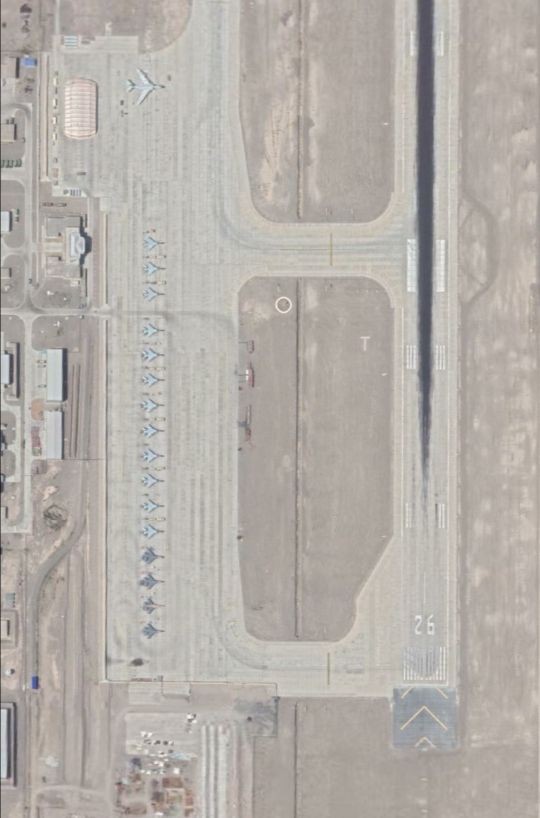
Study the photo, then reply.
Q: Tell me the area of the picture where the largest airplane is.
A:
top left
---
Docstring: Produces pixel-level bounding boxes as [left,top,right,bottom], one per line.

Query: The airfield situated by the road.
[52,0,457,748]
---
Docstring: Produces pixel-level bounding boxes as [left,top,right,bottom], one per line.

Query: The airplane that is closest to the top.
[127,68,165,104]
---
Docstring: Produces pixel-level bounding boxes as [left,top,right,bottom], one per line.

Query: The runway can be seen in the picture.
[394,0,457,686]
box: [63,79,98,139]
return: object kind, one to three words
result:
hangar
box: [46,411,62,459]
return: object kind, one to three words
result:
building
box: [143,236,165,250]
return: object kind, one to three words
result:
airplane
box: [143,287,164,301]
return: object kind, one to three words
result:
airplane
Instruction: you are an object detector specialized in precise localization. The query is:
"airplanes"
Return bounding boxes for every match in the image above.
[143,574,166,589]
[143,324,166,338]
[143,524,165,538]
[144,474,164,488]
[143,261,164,276]
[143,287,164,301]
[127,68,165,104]
[143,424,166,439]
[143,550,164,564]
[143,598,165,613]
[143,499,165,513]
[143,398,165,412]
[143,449,165,463]
[143,347,165,362]
[144,373,165,387]
[143,624,165,638]
[143,236,165,250]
